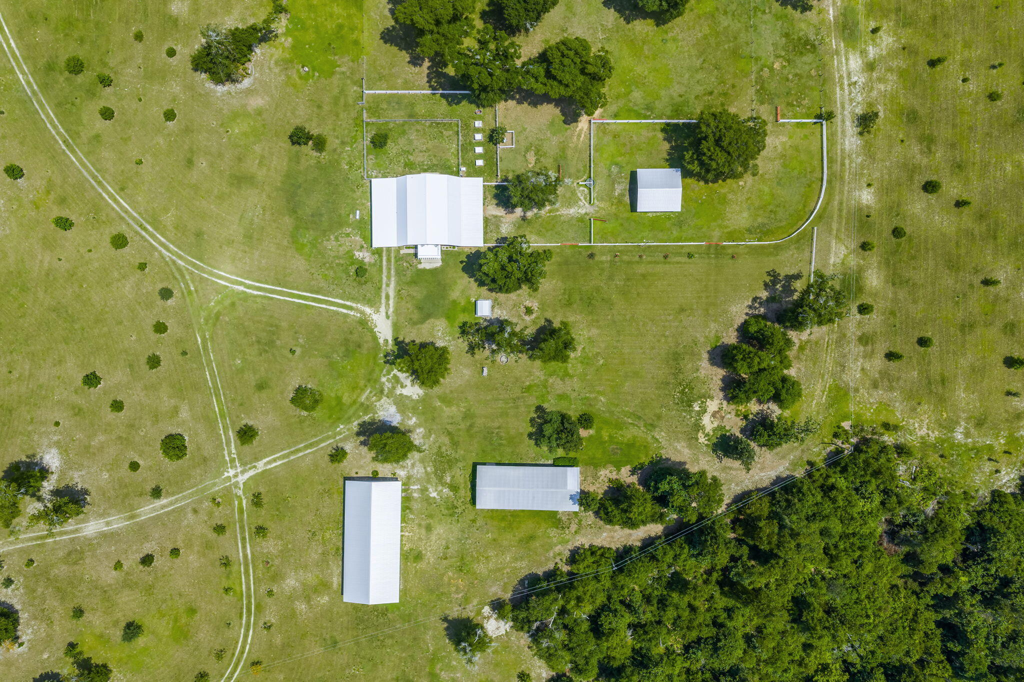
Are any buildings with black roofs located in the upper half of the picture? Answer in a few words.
No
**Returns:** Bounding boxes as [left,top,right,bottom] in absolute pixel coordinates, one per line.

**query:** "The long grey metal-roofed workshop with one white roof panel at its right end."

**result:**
[476,464,580,512]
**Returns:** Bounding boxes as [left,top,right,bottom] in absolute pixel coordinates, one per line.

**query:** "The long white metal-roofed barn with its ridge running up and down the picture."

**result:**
[343,479,403,605]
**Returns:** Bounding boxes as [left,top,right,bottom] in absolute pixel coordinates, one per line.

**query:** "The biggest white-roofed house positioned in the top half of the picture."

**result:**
[371,172,484,249]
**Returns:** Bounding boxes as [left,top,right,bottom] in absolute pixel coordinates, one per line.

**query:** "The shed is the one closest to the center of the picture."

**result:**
[474,299,492,317]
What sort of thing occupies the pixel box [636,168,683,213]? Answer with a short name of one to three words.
shed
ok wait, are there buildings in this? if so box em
[636,168,683,213]
[476,464,580,512]
[474,299,492,317]
[343,479,403,605]
[371,172,484,249]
